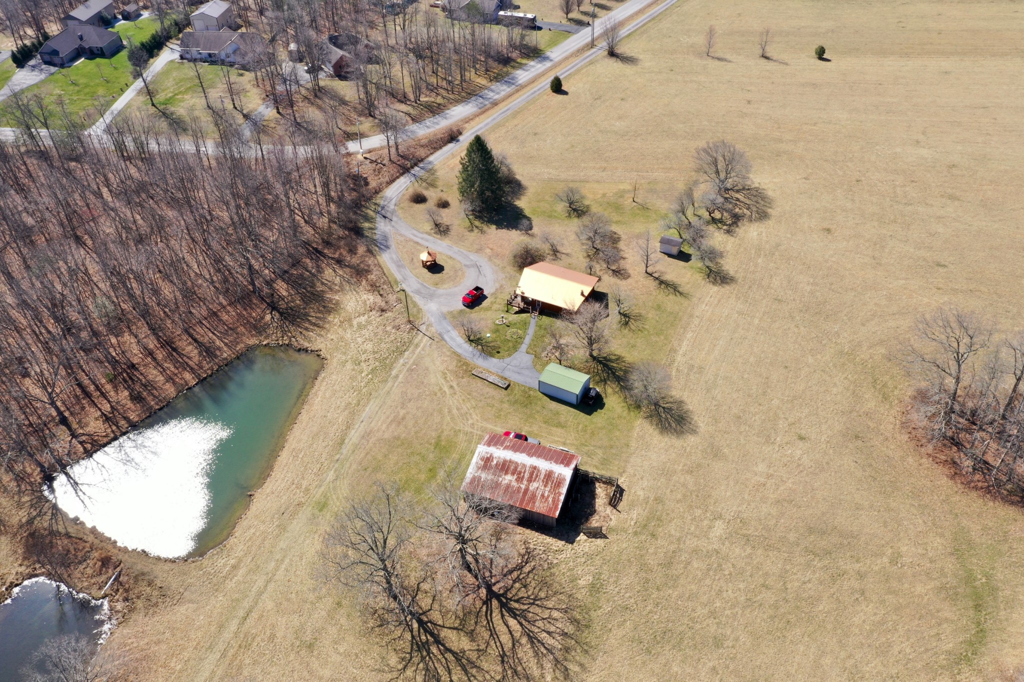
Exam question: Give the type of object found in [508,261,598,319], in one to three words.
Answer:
building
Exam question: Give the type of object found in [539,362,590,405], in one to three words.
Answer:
building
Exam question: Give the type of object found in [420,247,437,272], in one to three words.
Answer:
gazebo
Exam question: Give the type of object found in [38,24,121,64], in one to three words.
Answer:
house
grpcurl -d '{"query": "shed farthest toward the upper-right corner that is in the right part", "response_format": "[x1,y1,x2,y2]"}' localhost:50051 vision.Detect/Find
[660,235,683,256]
